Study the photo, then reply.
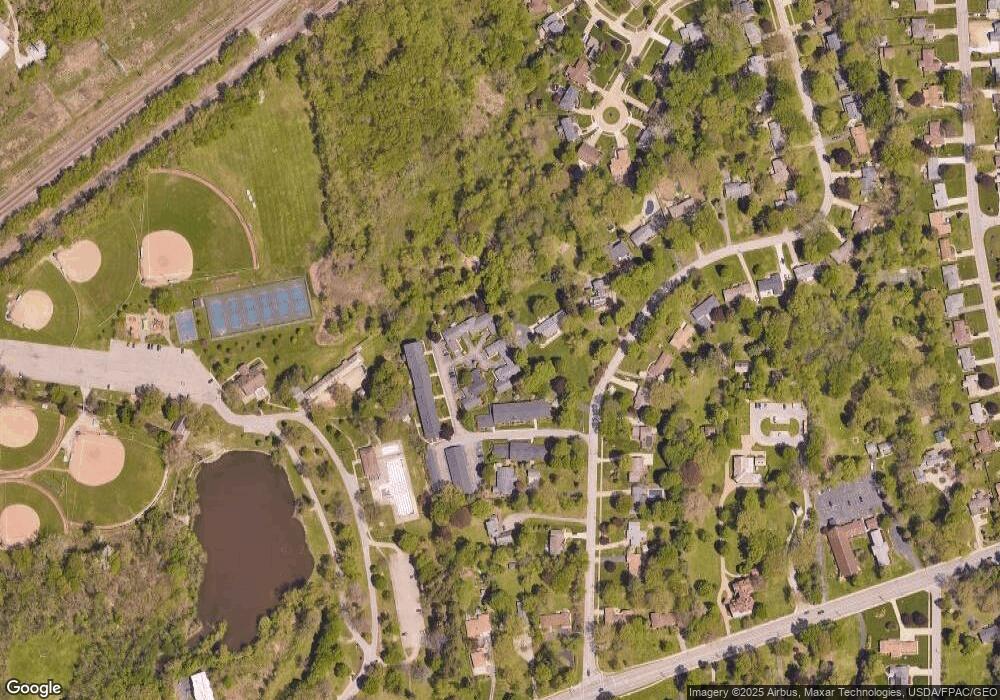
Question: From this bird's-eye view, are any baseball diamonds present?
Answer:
Yes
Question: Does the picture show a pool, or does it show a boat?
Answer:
pool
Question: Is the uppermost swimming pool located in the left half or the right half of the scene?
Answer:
right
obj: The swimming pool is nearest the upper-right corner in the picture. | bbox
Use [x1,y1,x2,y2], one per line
[642,191,662,217]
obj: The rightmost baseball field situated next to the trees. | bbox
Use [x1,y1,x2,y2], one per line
[140,168,257,288]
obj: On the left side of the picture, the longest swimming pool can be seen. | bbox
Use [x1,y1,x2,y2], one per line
[369,440,421,523]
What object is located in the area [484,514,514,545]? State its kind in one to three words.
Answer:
house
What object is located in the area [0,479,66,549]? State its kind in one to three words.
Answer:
baseball field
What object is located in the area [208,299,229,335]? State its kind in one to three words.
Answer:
tennis court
